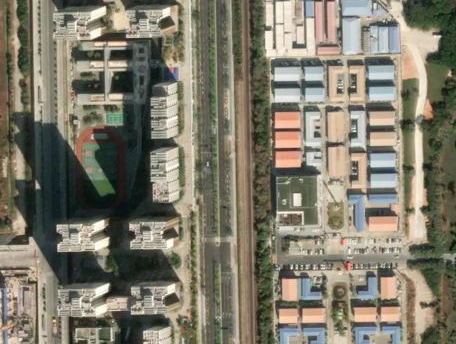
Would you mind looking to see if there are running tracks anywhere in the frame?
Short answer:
Yes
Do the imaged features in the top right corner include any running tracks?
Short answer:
No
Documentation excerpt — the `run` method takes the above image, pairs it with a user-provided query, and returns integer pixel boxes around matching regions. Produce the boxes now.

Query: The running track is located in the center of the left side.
[75,126,126,208]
